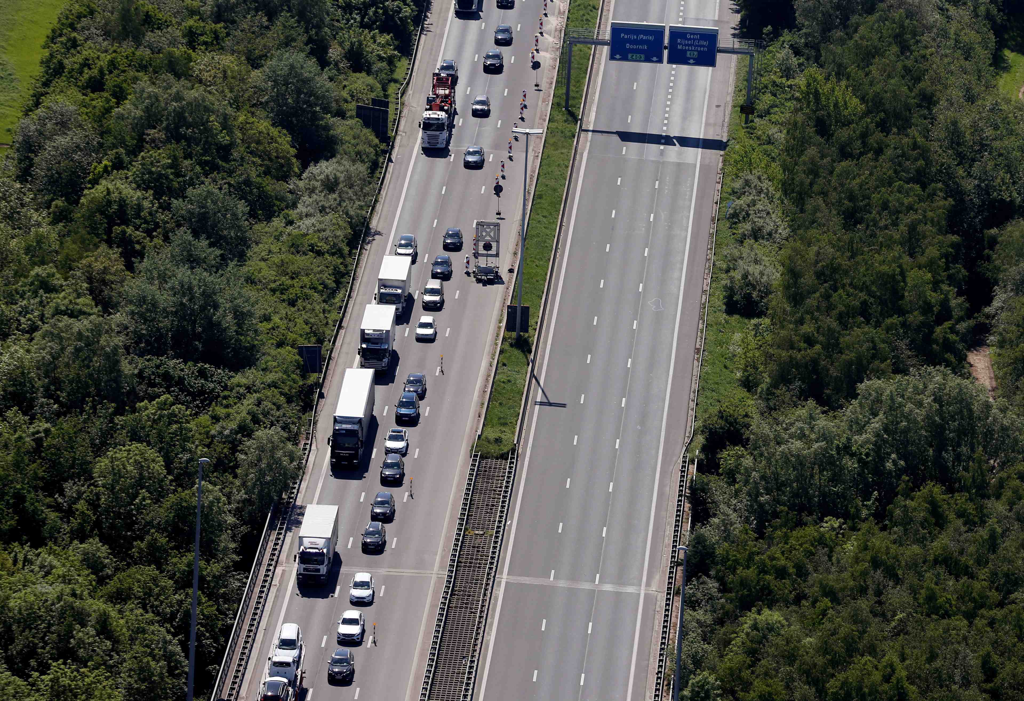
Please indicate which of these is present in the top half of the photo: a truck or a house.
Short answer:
truck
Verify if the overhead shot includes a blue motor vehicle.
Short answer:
Yes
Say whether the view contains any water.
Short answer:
No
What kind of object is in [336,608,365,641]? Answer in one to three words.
car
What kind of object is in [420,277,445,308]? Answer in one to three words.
vehicle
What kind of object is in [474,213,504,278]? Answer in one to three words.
trailer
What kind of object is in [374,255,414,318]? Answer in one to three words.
truck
